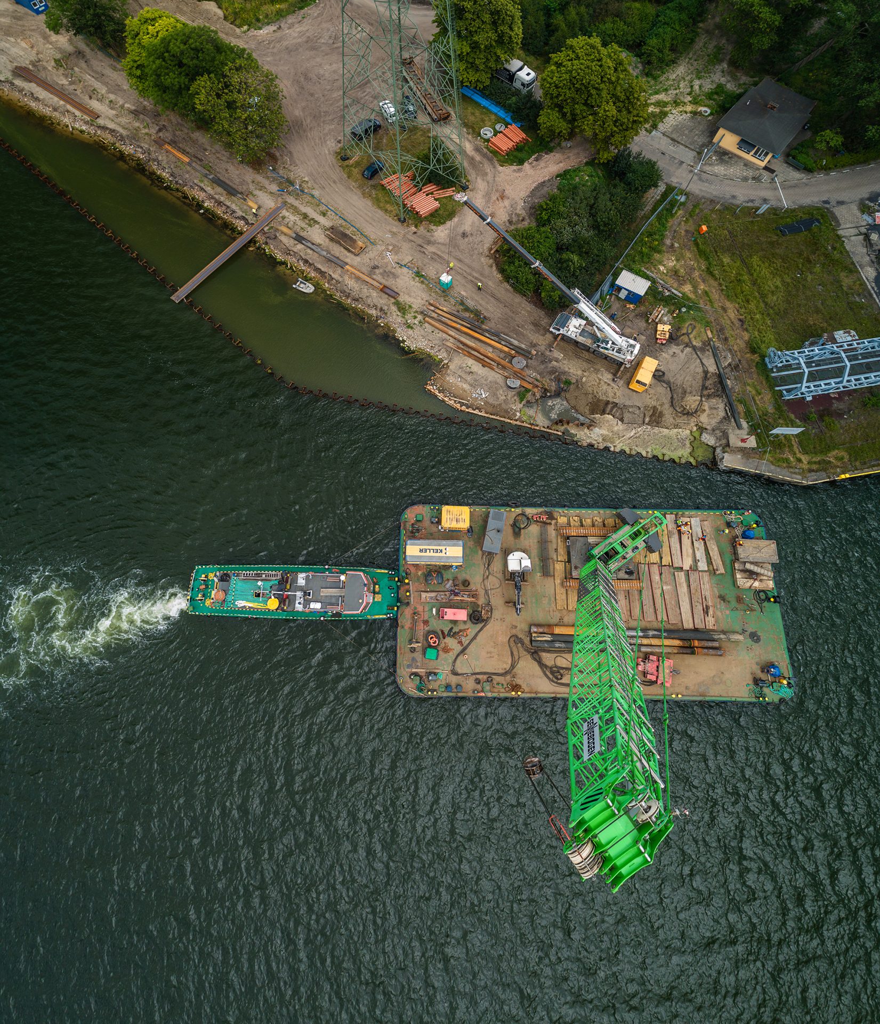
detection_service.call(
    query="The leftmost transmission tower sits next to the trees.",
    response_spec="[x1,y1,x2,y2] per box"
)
[335,0,472,227]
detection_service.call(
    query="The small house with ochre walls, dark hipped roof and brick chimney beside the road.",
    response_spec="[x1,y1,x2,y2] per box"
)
[710,79,817,167]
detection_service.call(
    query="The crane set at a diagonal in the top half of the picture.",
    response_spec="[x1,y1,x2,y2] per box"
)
[446,189,645,390]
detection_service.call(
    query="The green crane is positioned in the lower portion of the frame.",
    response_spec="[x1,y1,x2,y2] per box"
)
[475,495,690,889]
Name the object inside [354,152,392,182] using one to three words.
car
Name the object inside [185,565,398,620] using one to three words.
boat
